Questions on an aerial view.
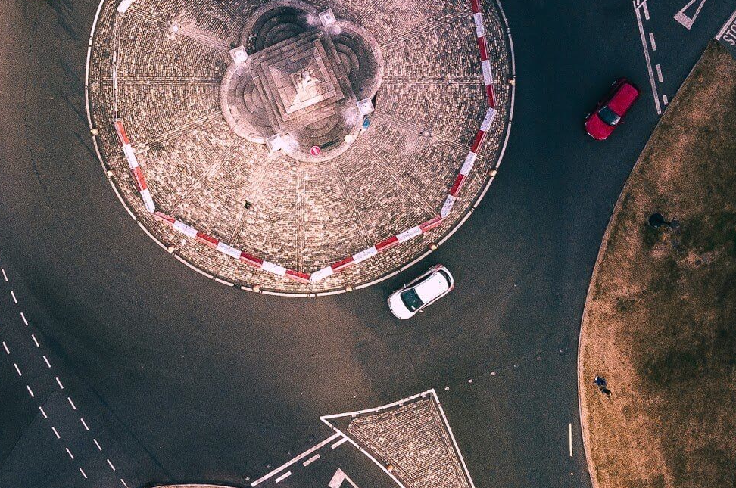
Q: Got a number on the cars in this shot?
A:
2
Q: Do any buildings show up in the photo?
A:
No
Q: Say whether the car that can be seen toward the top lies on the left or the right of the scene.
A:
right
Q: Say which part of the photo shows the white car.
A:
center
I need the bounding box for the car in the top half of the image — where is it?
[587,78,640,141]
